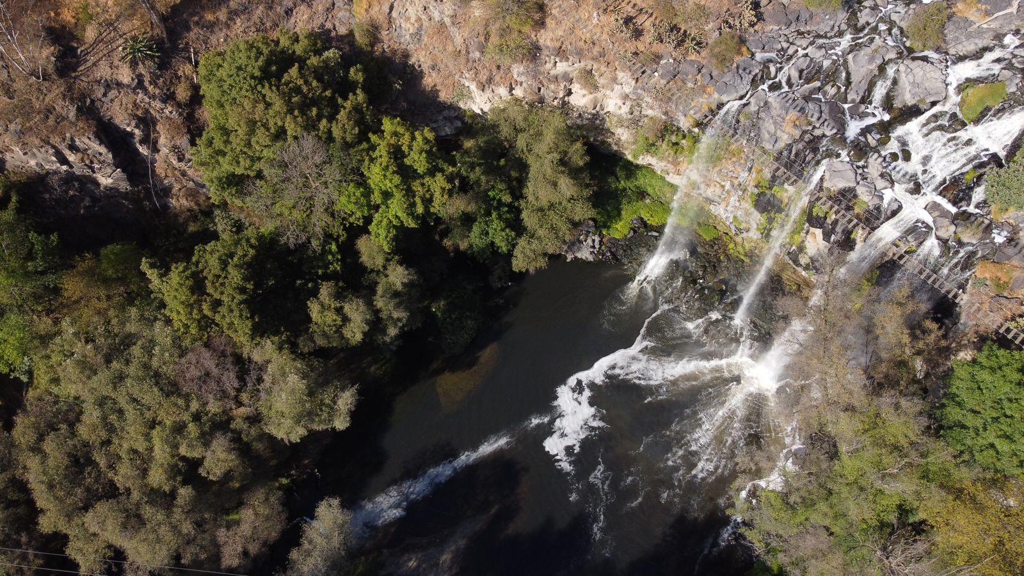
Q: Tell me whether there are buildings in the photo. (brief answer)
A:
No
